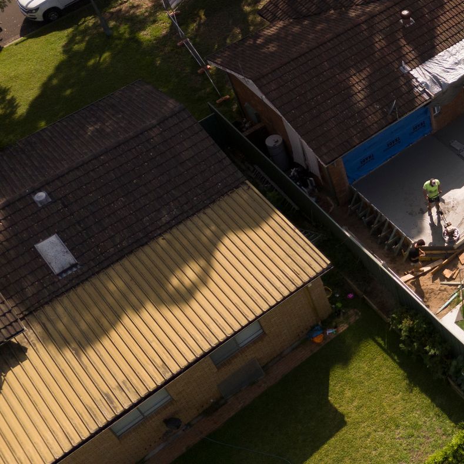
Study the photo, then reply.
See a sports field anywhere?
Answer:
No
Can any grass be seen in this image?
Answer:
Yes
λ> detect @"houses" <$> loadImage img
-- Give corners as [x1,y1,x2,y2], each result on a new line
[205,0,464,205]
[0,75,336,464]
